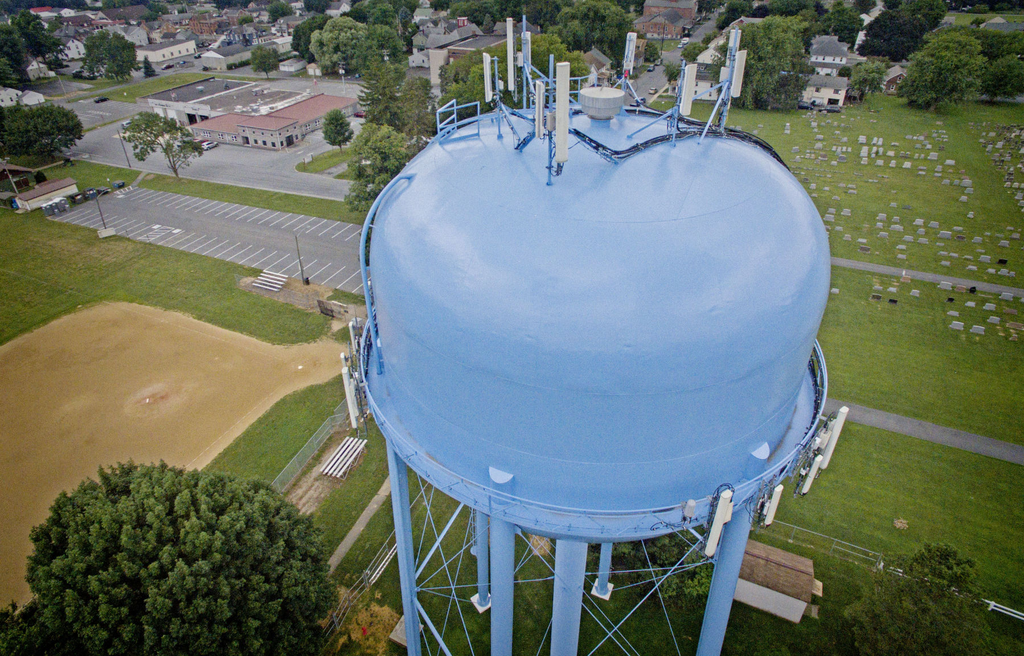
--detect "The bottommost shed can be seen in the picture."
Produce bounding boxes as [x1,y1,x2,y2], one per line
[733,542,822,622]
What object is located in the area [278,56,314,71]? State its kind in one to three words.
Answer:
building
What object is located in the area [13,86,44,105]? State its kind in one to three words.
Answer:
shed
